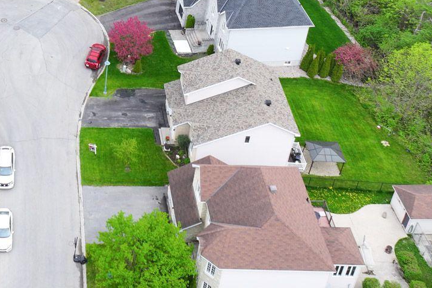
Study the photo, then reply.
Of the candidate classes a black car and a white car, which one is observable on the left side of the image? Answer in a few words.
white car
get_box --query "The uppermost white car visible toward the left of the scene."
[0,149,18,191]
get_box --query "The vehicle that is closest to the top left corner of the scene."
[82,43,108,73]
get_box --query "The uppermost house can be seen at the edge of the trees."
[173,0,315,70]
